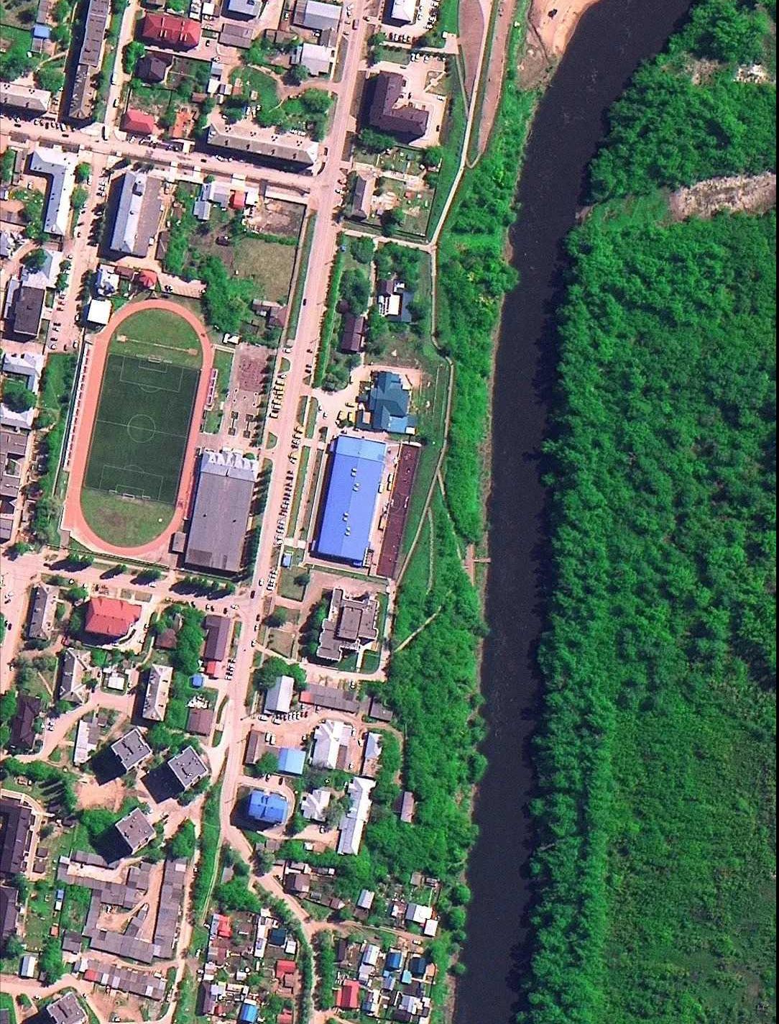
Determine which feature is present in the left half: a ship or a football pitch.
football pitch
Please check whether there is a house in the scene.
Yes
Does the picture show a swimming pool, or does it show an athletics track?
athletics track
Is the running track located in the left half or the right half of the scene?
left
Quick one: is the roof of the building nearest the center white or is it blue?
blue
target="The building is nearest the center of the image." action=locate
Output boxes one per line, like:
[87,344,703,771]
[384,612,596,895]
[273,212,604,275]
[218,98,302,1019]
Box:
[318,435,387,566]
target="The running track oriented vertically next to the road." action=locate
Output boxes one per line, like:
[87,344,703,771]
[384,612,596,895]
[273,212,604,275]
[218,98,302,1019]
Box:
[60,300,214,555]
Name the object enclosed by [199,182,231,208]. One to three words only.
house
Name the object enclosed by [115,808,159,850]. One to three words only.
building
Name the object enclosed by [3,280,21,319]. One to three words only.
shed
